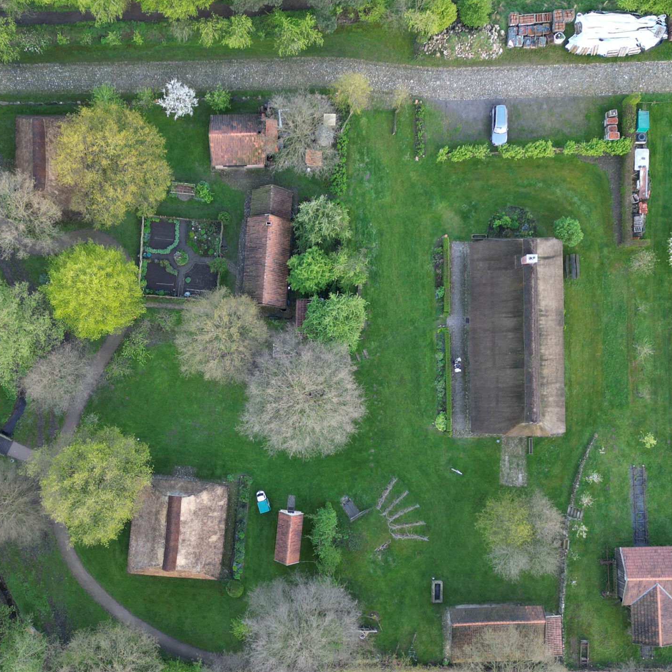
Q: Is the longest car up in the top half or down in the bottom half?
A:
top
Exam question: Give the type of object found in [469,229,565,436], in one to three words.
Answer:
house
